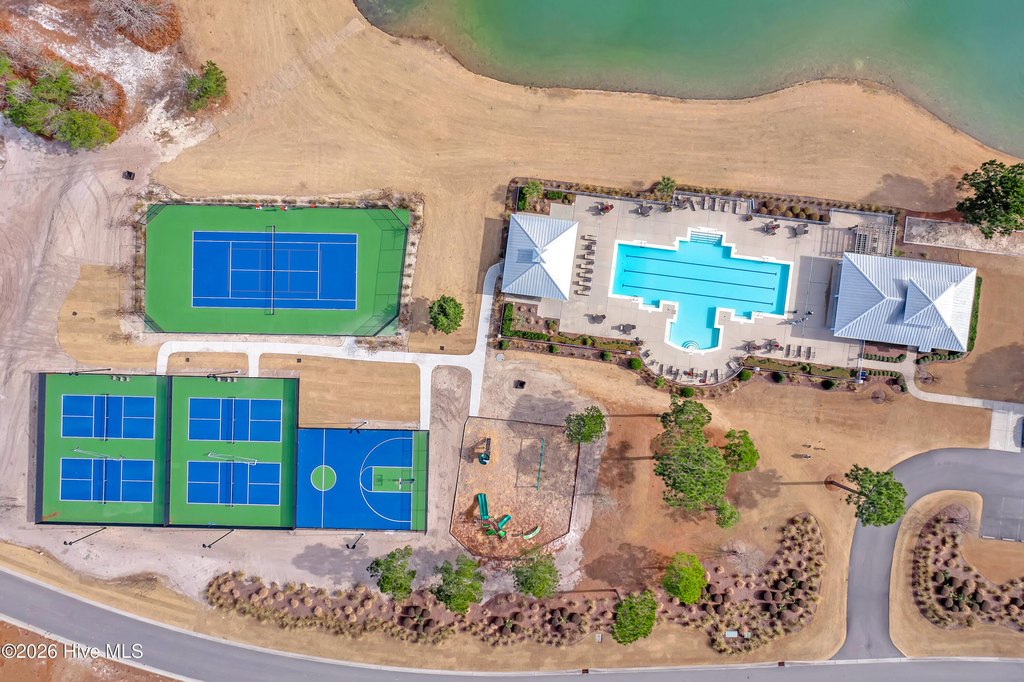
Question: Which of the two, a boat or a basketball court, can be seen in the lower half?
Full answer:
Looking in the lower half, you will find a basketball court.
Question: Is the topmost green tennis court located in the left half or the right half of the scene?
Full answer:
The topmost green tennis court appears in the left half of the scene.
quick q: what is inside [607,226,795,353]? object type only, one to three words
swimming pool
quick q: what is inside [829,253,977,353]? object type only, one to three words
building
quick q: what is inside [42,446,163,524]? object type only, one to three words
sports court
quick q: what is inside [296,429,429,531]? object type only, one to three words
basketball court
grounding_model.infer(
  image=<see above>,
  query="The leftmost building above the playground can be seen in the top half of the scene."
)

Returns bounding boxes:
[501,214,578,301]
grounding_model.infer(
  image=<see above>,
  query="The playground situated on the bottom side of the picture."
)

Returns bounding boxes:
[449,416,579,558]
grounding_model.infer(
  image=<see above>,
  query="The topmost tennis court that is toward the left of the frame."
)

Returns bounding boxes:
[143,204,409,335]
